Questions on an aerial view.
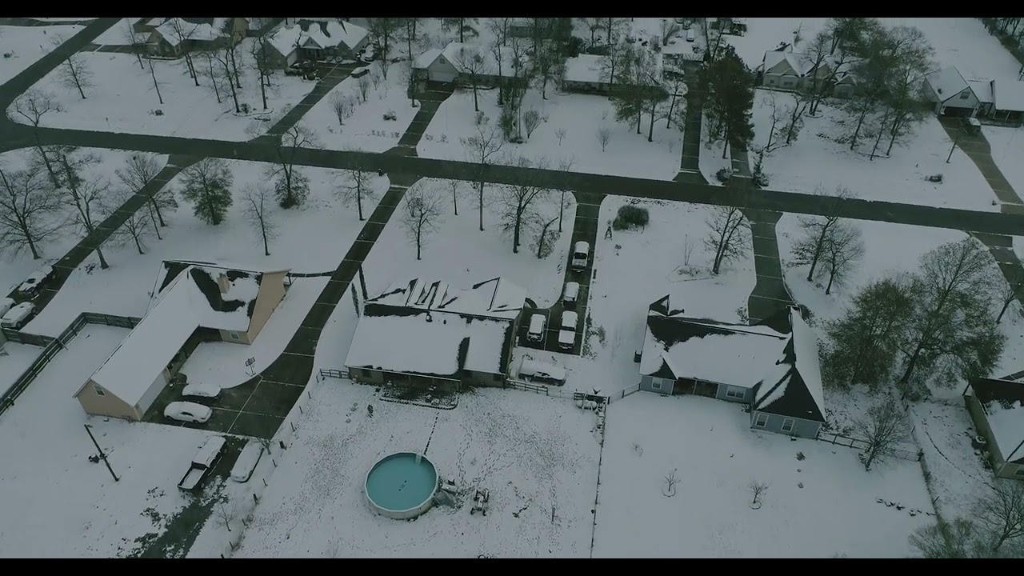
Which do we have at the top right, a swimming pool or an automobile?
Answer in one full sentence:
Looking at the top right, you will find an automobile.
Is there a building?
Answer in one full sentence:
Yes, this view includes a building.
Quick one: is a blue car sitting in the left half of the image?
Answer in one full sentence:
No, I see no blue car in the left half of the image.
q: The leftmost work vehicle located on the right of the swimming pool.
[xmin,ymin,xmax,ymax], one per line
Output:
[467,481,492,515]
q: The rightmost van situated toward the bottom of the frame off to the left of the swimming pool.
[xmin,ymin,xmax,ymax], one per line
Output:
[228,436,269,486]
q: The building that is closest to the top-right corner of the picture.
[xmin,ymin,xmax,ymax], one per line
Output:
[926,61,1024,126]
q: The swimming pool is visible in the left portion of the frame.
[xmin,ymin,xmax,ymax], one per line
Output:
[362,454,438,531]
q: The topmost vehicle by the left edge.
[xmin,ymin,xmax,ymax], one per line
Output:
[16,264,62,299]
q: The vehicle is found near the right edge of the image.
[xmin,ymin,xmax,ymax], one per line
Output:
[963,115,980,134]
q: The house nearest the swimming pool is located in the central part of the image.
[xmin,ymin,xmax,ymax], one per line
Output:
[340,277,526,396]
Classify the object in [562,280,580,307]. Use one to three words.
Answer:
car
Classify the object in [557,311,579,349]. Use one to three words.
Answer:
truck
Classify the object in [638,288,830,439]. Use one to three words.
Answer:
house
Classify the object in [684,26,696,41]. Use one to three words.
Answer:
vehicle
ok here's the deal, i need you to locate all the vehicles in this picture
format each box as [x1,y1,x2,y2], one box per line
[171,433,231,492]
[517,364,569,387]
[349,66,372,81]
[176,380,227,401]
[161,402,214,426]
[0,298,40,329]
[228,436,269,486]
[557,311,579,349]
[16,264,62,299]
[0,295,22,316]
[570,238,590,269]
[963,115,980,134]
[361,48,376,63]
[684,26,696,41]
[562,280,580,307]
[467,481,492,515]
[526,312,548,343]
